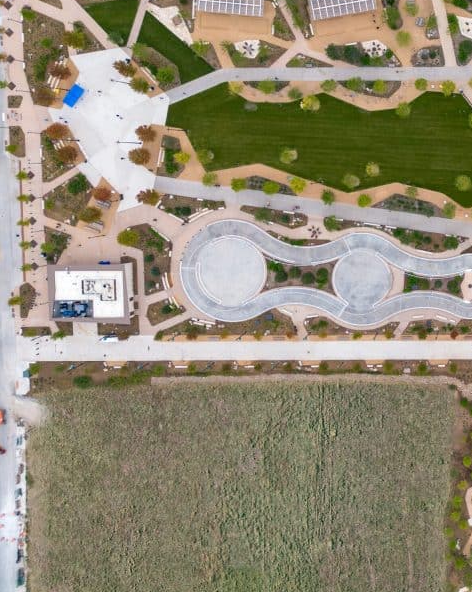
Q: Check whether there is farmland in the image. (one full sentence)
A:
Yes, farmland shows up in the scene.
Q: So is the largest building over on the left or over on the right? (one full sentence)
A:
The largest building appears in the left half of the scene.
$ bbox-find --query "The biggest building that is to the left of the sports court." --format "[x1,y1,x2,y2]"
[47,262,138,324]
